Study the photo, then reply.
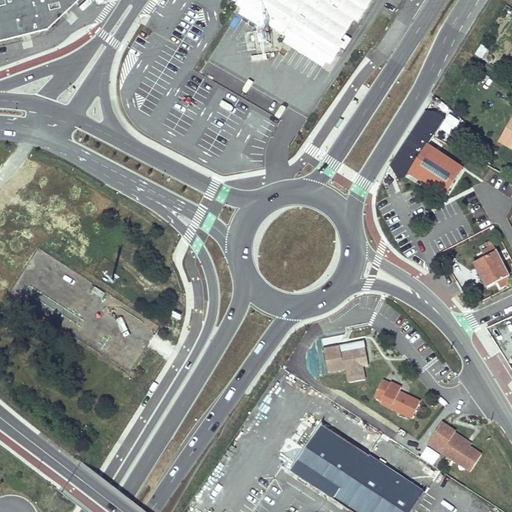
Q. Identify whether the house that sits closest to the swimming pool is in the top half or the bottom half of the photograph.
bottom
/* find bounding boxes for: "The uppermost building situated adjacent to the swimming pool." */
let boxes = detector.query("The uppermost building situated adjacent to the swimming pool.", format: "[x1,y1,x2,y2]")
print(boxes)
[324,340,369,383]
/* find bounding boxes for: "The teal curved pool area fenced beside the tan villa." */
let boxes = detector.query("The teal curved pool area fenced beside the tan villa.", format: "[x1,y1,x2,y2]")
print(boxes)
[307,340,326,380]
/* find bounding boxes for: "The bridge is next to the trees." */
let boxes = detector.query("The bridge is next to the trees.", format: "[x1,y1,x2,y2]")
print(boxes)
[0,399,147,512]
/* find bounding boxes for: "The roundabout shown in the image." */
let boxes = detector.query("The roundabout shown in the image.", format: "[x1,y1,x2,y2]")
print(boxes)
[234,187,358,312]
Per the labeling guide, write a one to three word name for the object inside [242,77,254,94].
vehicle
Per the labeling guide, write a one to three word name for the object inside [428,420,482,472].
house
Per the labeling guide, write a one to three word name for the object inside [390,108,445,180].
building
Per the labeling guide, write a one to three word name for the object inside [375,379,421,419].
house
